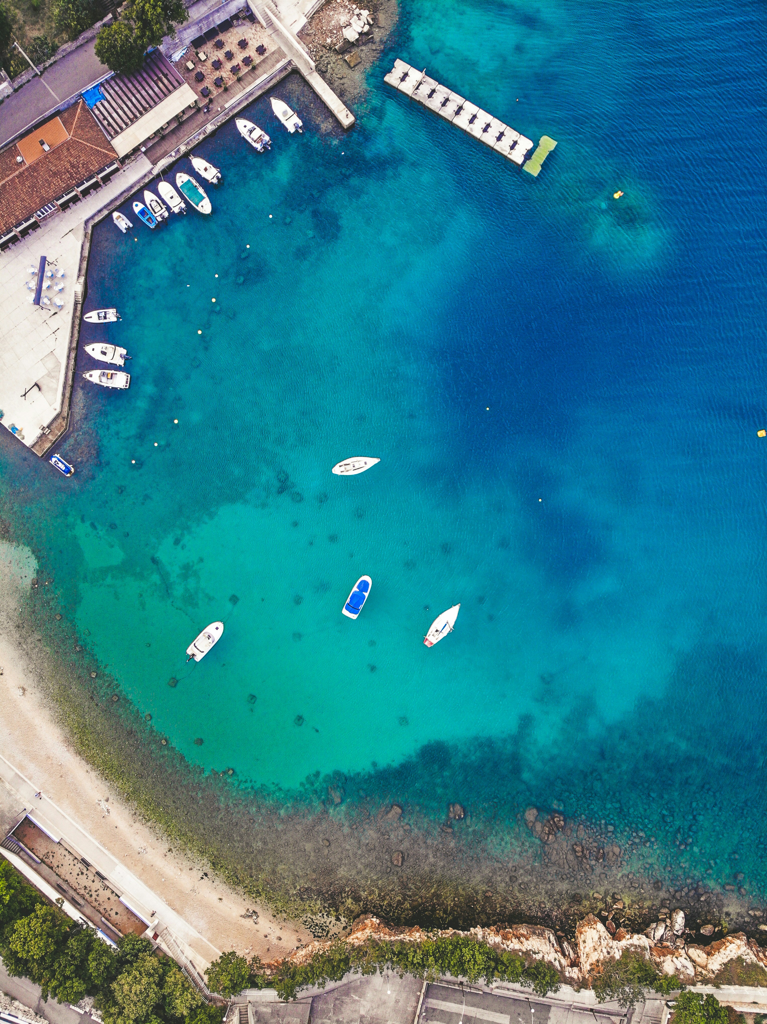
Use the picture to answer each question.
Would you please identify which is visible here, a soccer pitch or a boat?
boat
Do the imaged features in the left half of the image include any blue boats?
Yes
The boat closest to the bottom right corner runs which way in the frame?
at an angle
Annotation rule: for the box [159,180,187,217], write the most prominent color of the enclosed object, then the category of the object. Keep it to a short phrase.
white boat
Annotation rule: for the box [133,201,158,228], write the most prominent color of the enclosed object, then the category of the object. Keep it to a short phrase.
blue boat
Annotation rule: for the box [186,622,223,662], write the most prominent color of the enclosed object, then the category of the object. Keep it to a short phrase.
white boat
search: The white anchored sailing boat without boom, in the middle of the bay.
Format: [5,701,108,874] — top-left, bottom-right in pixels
[332,457,379,477]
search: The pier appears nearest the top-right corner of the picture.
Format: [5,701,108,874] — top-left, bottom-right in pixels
[385,60,532,165]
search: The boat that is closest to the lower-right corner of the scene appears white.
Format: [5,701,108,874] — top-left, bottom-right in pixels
[424,604,460,646]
